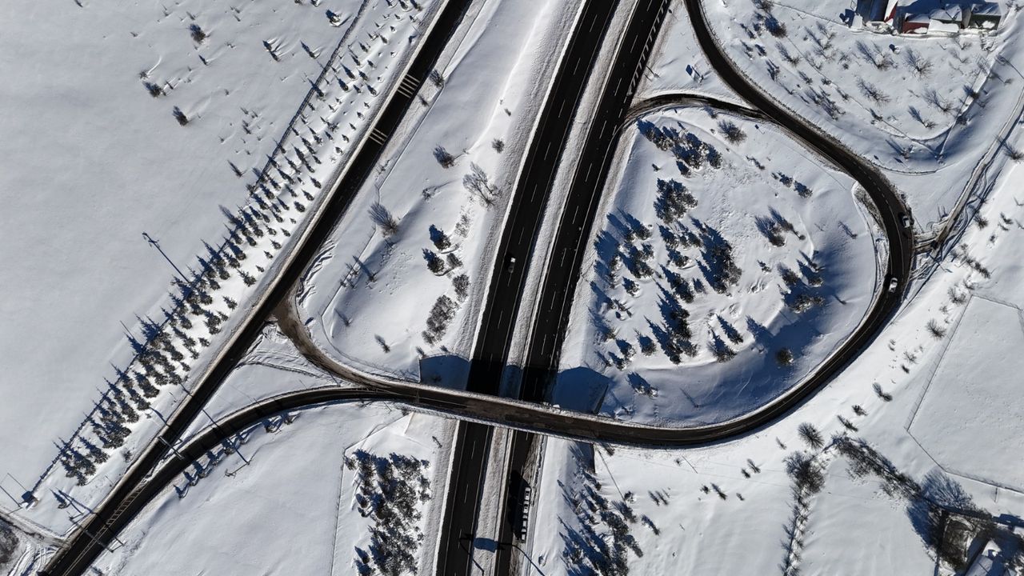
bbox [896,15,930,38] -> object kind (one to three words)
shed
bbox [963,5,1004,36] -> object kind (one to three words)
barn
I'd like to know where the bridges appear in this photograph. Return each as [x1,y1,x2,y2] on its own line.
[395,357,609,475]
